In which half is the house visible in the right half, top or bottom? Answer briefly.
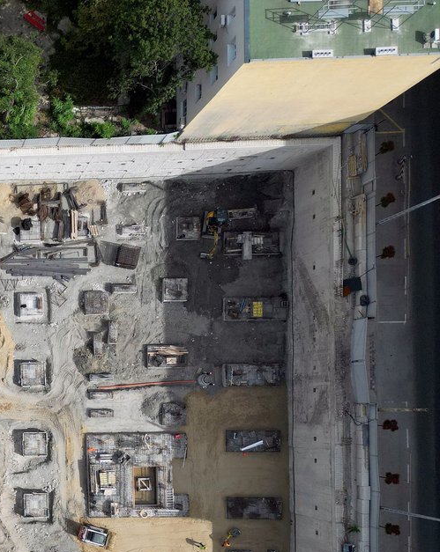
top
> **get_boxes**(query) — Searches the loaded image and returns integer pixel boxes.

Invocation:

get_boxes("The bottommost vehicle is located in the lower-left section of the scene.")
[69,522,111,547]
